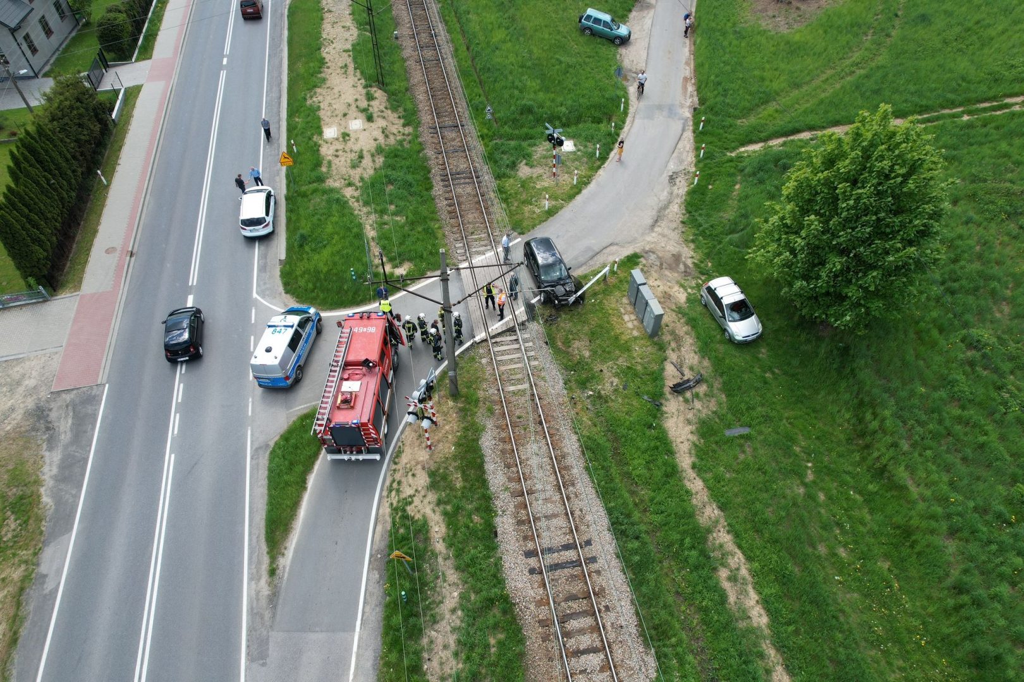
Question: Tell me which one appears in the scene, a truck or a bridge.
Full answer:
The image shows a truck.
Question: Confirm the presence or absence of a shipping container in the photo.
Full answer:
No, the photo shows no shipping container.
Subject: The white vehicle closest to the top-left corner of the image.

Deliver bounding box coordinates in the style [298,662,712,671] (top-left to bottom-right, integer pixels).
[239,187,278,236]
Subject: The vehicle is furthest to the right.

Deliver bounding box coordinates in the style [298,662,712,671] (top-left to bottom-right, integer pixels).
[701,280,763,344]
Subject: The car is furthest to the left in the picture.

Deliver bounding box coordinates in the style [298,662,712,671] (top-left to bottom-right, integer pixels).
[158,301,205,363]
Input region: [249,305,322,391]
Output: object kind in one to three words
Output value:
van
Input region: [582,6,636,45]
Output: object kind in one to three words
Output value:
car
